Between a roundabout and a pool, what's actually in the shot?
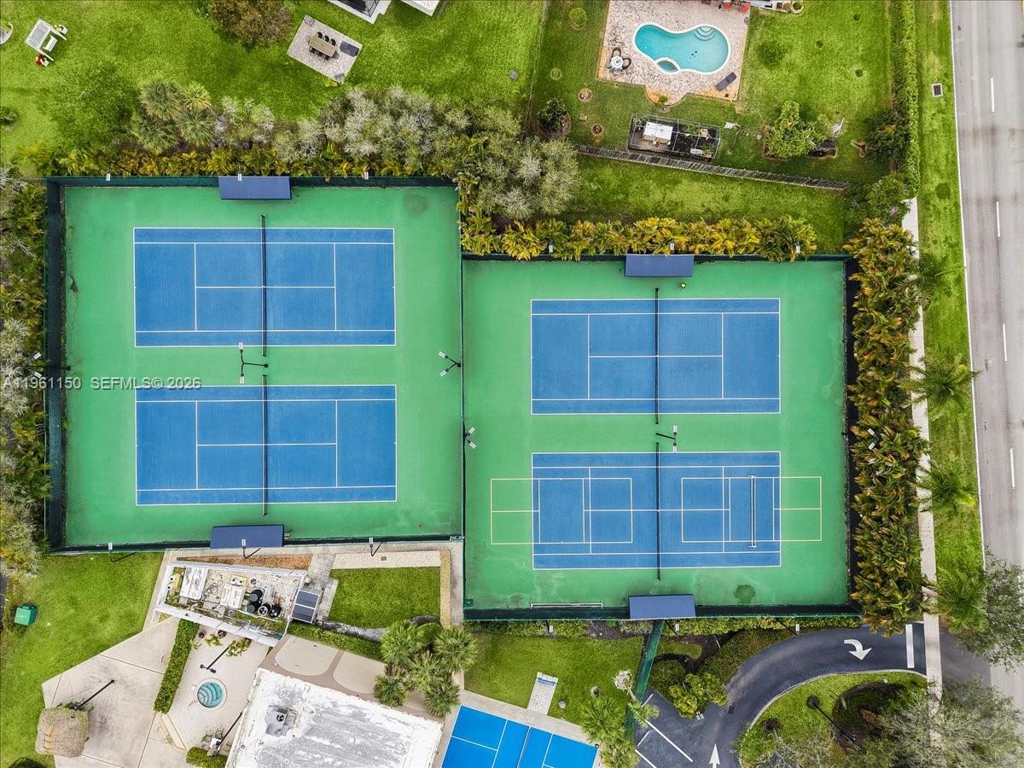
pool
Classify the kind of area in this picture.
sports ground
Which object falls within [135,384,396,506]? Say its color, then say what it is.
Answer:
blue tennis court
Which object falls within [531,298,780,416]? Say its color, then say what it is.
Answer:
blue tennis court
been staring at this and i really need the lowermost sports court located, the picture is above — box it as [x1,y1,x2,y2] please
[442,705,598,768]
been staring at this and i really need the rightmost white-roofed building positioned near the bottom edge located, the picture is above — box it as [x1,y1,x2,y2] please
[224,669,445,768]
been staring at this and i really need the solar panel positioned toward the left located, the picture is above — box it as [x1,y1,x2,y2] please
[292,586,323,622]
